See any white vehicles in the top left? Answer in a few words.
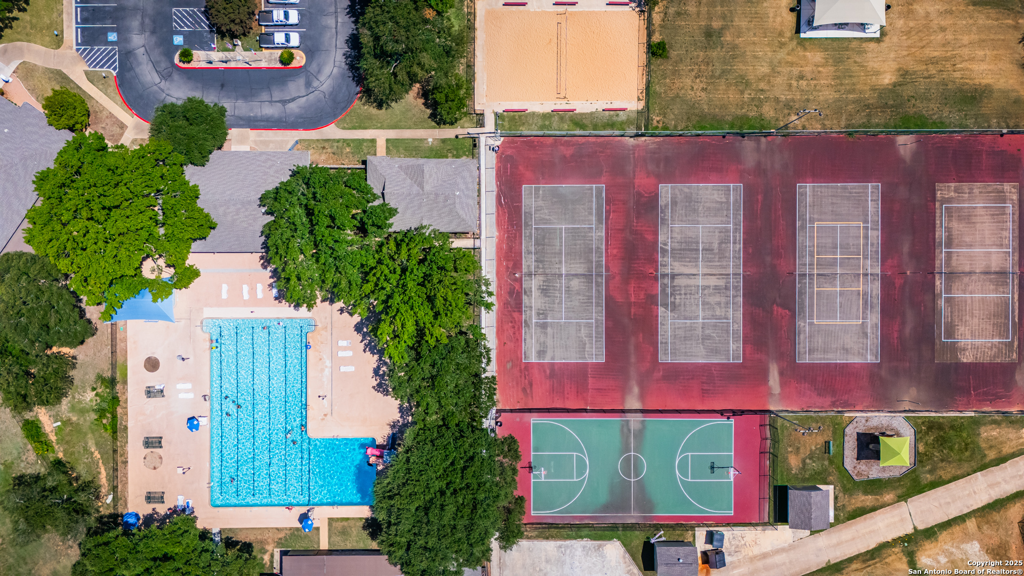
Yes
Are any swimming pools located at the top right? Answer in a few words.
No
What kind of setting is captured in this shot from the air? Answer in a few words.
sports ground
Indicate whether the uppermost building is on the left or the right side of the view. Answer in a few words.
right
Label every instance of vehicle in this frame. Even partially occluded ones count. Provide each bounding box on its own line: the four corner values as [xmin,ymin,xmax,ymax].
[263,0,299,6]
[257,6,301,26]
[258,29,301,49]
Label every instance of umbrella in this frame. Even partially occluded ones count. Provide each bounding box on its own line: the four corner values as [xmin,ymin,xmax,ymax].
[123,508,144,529]
[300,515,316,531]
[187,416,201,430]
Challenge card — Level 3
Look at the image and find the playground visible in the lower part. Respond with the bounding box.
[861,431,911,466]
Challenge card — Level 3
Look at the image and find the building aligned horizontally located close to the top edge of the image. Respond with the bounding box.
[804,0,886,33]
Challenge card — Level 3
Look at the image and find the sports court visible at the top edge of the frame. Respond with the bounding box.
[474,0,644,114]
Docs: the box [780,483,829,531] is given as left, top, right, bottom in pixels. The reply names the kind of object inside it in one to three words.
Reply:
shed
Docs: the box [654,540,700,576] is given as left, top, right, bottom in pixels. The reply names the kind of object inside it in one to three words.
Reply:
shed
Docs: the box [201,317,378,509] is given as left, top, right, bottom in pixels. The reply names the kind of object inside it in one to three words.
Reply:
swimming pool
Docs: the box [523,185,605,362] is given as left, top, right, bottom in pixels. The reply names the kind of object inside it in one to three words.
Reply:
tennis court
